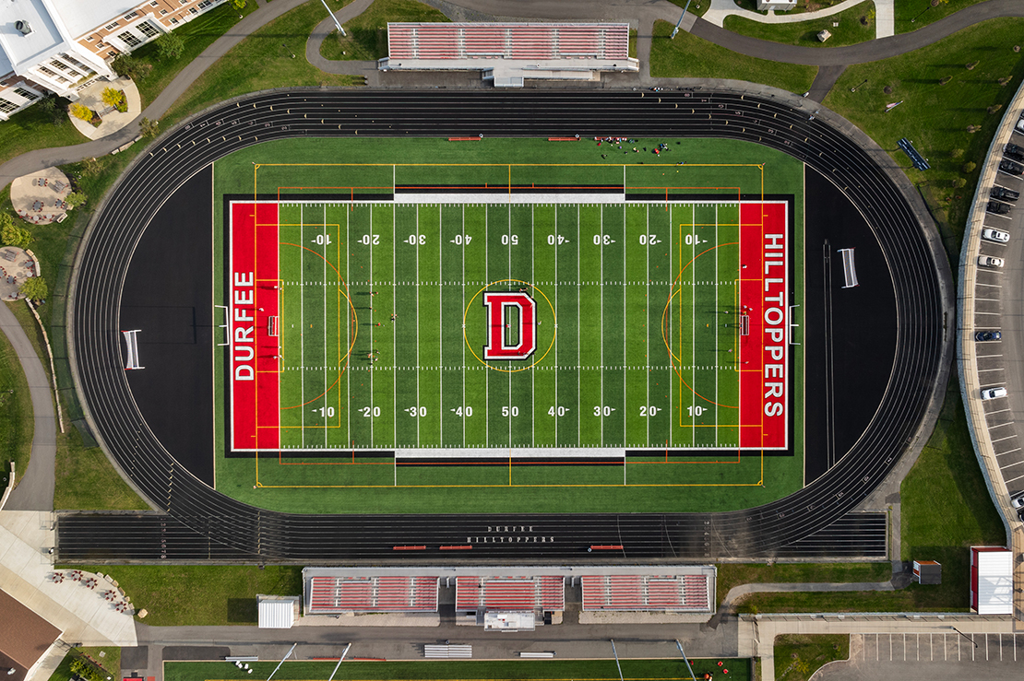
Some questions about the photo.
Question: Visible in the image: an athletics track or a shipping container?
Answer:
athletics track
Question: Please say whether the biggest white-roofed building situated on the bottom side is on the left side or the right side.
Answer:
right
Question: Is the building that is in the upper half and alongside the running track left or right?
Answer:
left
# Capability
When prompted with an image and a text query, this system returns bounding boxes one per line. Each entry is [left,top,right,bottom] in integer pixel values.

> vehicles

[1016,119,1024,131]
[985,201,1012,215]
[976,330,1001,342]
[1010,496,1024,510]
[998,158,1024,174]
[990,185,1021,200]
[1002,142,1024,159]
[981,387,1007,400]
[978,255,1004,267]
[983,229,1010,242]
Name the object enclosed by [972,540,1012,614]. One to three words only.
building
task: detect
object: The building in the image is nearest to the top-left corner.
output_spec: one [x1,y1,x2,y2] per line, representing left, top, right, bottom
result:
[0,0,222,118]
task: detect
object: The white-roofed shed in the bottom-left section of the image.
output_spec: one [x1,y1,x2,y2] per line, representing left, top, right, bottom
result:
[259,599,294,628]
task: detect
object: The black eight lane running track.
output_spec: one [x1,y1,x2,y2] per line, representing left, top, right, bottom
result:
[58,91,944,560]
